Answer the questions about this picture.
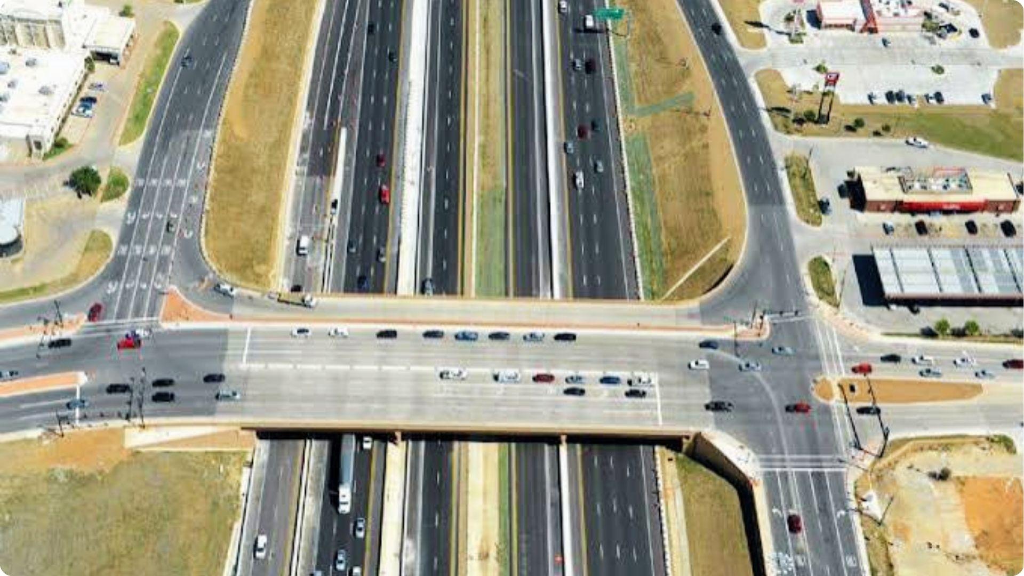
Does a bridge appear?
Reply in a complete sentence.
Yes, there's a bridge here.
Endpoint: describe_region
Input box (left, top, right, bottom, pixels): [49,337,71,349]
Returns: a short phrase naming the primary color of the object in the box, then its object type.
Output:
black vehicle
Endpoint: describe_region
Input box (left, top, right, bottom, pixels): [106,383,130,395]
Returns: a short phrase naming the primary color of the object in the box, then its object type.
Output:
black vehicle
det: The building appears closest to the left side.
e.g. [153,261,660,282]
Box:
[0,198,30,260]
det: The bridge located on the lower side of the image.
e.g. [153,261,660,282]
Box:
[142,289,714,455]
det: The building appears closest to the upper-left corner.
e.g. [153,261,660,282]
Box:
[0,0,137,164]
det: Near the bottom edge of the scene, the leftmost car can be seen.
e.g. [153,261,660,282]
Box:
[254,536,266,558]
